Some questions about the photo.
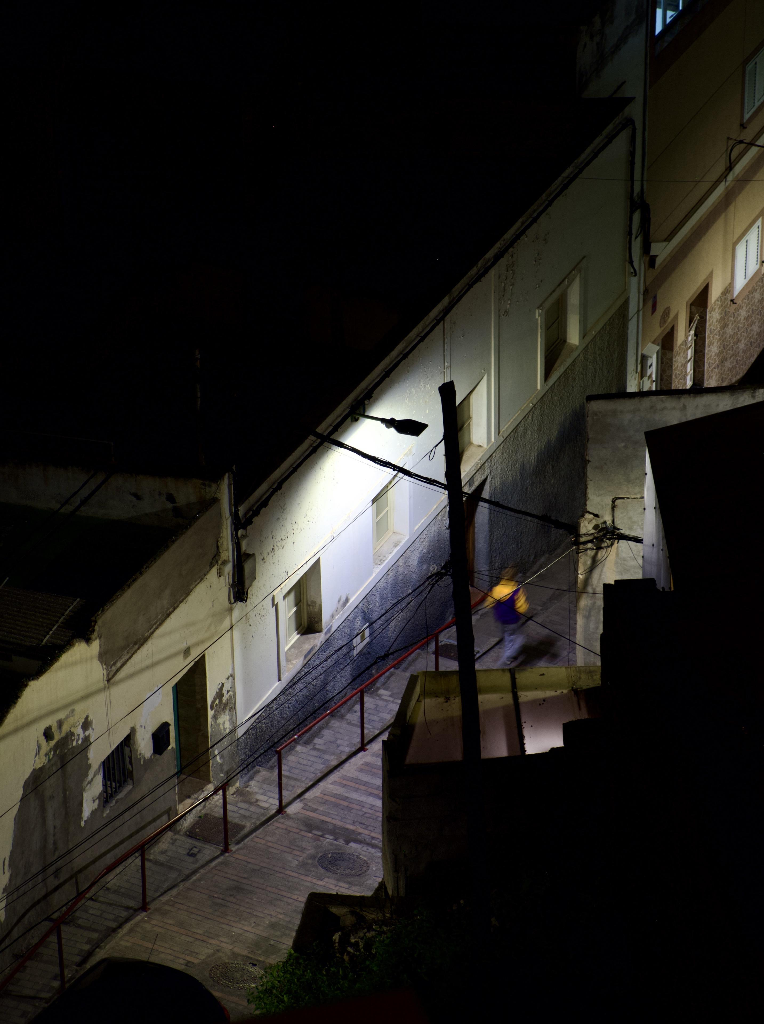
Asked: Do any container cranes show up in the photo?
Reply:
No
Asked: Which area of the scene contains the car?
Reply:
bottom left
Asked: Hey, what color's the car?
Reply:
black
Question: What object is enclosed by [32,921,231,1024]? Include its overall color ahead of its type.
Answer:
black car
